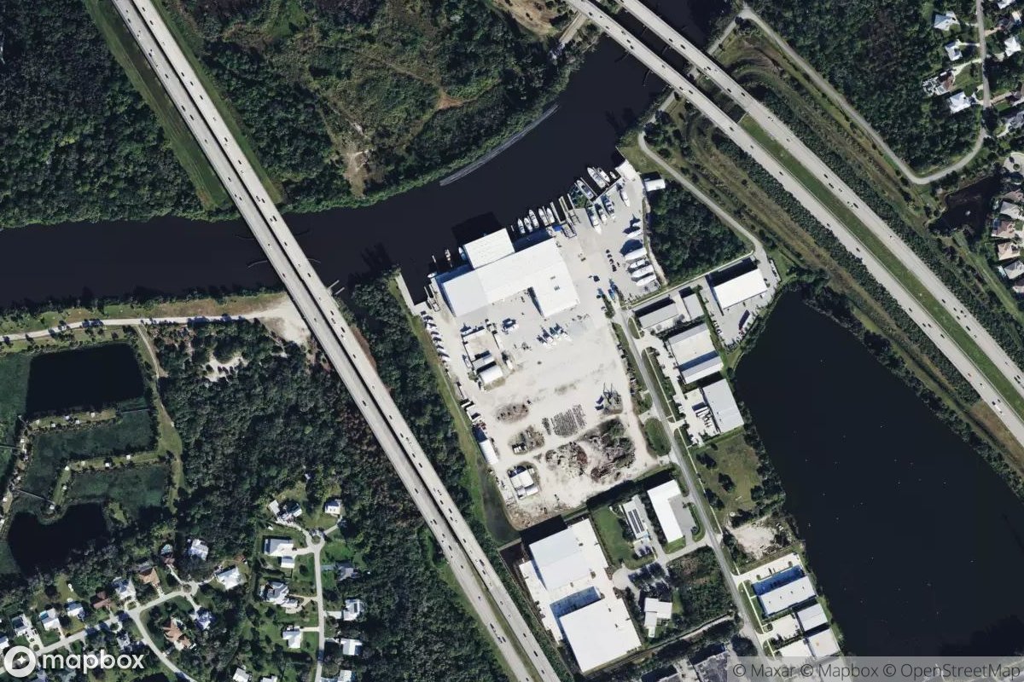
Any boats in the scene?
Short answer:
Yes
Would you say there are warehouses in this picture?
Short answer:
Yes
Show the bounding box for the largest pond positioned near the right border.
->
[929,167,1014,245]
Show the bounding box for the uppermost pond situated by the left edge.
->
[27,342,144,415]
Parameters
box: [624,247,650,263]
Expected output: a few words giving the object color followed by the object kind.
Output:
white boat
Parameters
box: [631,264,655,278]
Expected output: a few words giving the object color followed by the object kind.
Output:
white boat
